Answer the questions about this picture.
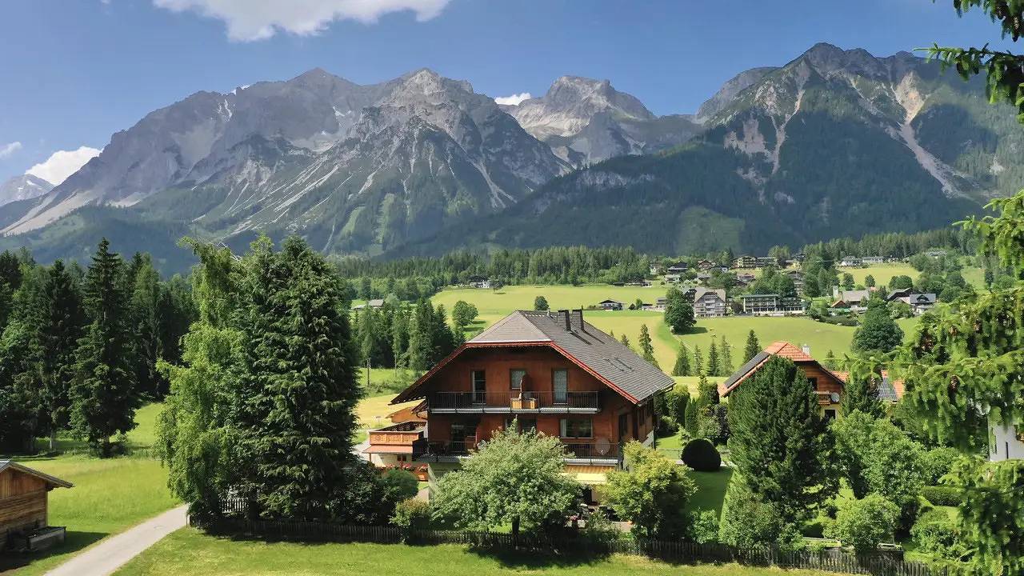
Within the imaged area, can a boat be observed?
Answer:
No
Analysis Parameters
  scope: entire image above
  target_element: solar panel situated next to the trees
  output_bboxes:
[724,342,772,381]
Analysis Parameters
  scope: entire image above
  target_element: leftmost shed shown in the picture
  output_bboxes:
[0,463,75,543]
